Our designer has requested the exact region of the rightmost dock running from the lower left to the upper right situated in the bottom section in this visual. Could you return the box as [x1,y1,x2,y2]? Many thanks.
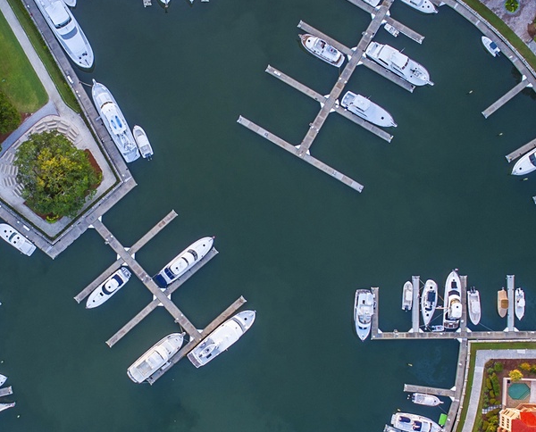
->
[195,296,247,339]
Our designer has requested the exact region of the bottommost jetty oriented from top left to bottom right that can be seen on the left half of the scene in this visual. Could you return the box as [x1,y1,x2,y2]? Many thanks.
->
[91,218,203,344]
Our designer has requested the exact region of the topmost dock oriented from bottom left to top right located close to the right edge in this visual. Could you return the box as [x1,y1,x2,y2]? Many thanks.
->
[481,75,533,118]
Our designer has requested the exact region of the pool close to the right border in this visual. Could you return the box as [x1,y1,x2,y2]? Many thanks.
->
[499,378,536,409]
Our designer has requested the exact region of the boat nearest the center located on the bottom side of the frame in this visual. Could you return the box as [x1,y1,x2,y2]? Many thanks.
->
[156,235,216,287]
